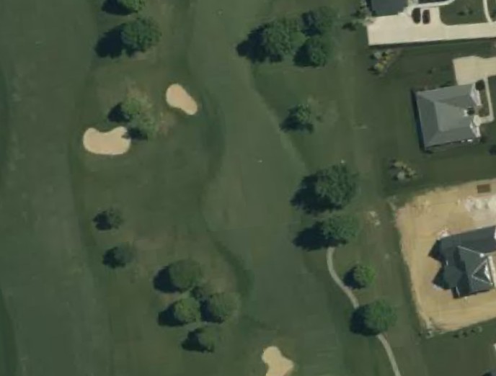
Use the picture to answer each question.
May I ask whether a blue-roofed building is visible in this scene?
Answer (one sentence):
No, I can see no blue-roofed building in this picture.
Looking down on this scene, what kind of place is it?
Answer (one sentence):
This image shows a golf course.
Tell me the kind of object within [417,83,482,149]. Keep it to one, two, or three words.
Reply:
house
